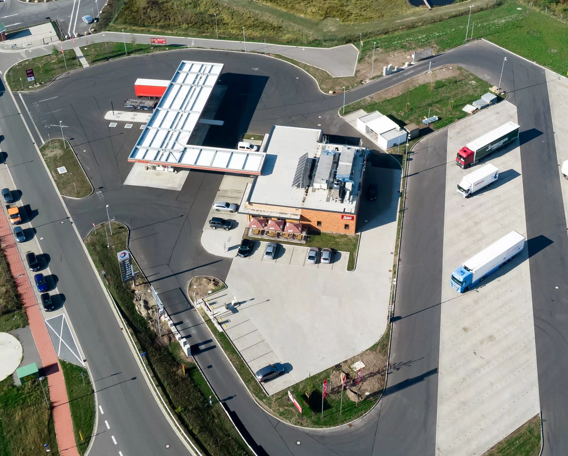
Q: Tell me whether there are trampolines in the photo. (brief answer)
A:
No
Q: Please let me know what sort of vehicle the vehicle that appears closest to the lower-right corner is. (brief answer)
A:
truck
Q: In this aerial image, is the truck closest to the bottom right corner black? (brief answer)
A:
No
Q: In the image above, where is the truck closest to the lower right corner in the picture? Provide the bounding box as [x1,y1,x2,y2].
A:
[451,230,525,293]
